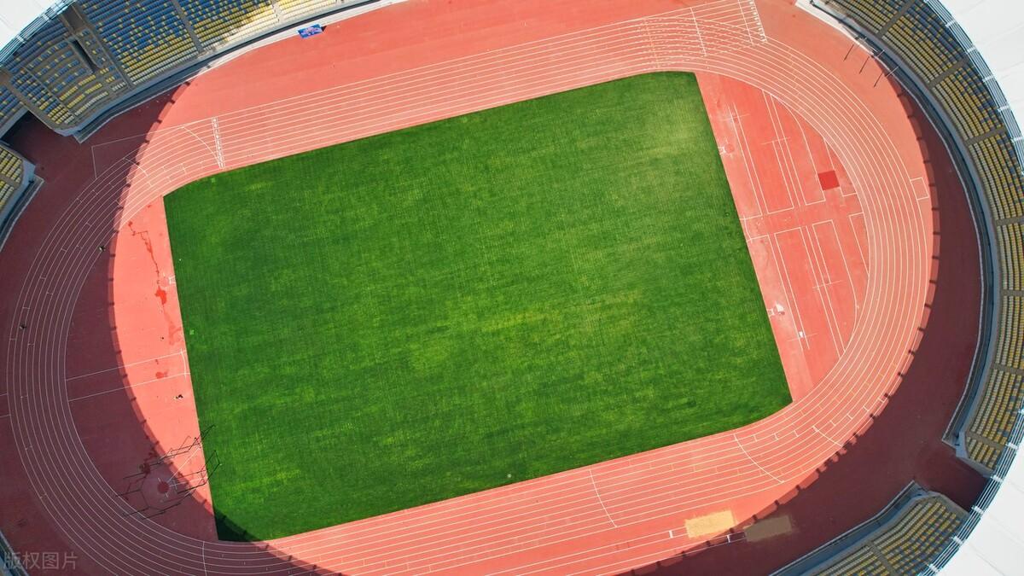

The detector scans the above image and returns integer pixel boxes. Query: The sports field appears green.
[162,71,794,544]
